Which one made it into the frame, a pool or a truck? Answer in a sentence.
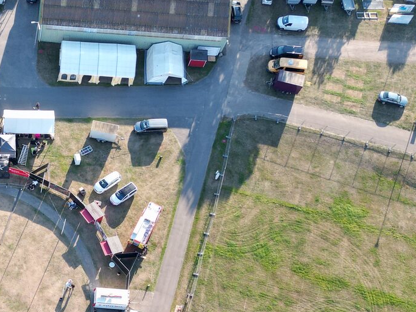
I can see a truck in this picture.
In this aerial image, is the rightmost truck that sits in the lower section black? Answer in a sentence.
No, the rightmost truck that sits in the lower section is white.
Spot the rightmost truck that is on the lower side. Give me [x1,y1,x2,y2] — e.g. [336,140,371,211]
[127,204,161,253]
